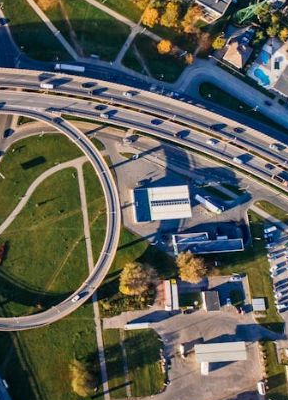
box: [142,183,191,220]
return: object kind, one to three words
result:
building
